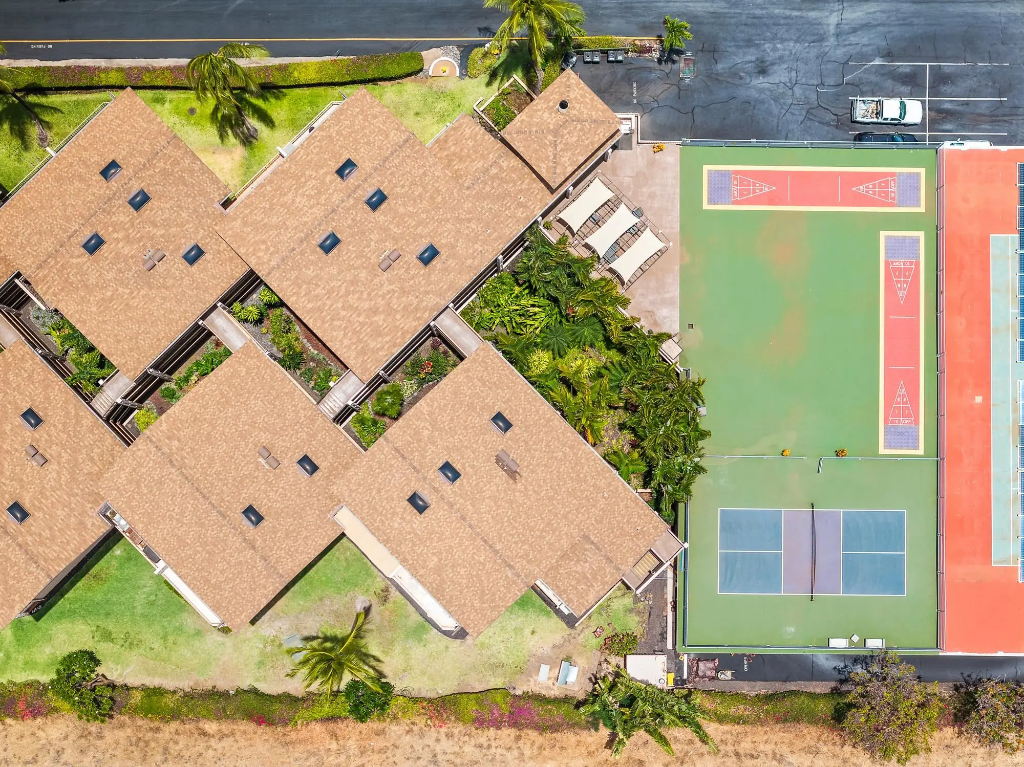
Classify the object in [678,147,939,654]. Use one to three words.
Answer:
sports court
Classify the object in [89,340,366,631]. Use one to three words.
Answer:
building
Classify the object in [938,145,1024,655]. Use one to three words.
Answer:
tennis court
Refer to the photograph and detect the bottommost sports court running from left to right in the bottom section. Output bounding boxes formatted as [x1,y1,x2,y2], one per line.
[718,508,906,596]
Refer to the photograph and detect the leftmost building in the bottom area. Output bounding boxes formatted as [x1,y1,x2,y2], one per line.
[0,339,144,631]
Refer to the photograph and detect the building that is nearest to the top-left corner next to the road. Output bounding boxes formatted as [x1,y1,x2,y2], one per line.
[0,88,270,392]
